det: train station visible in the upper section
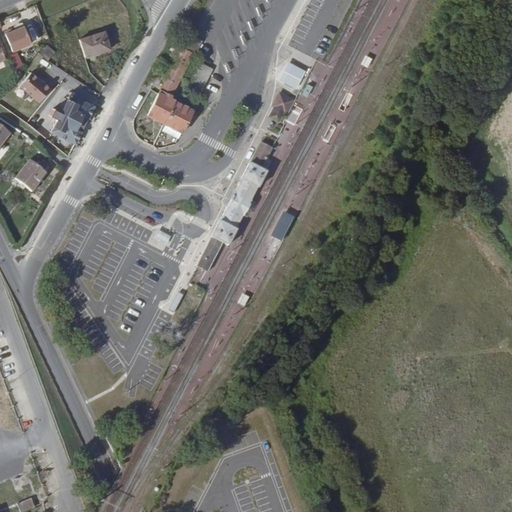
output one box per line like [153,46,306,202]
[224,162,268,223]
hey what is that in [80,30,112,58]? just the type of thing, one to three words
house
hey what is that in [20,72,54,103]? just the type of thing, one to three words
house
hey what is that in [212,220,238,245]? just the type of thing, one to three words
building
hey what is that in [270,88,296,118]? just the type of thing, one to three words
building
